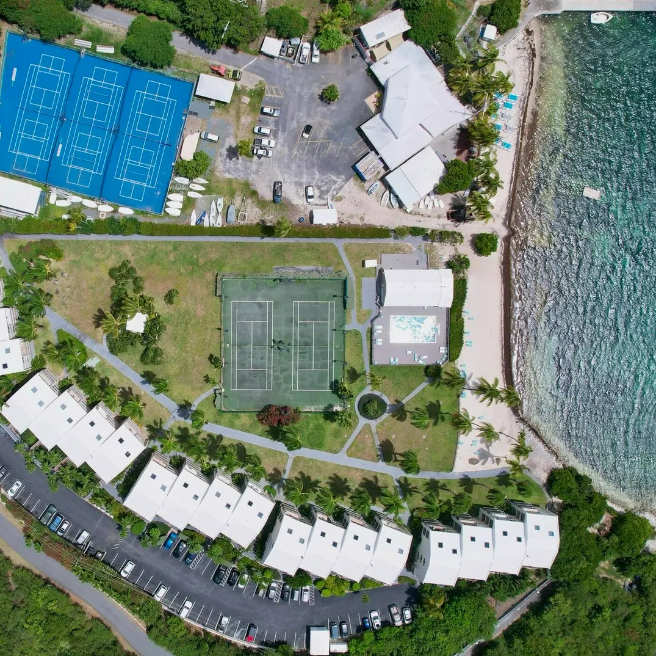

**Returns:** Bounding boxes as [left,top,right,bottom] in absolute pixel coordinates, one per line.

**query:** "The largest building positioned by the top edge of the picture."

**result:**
[350,30,474,171]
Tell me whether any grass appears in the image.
Yes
